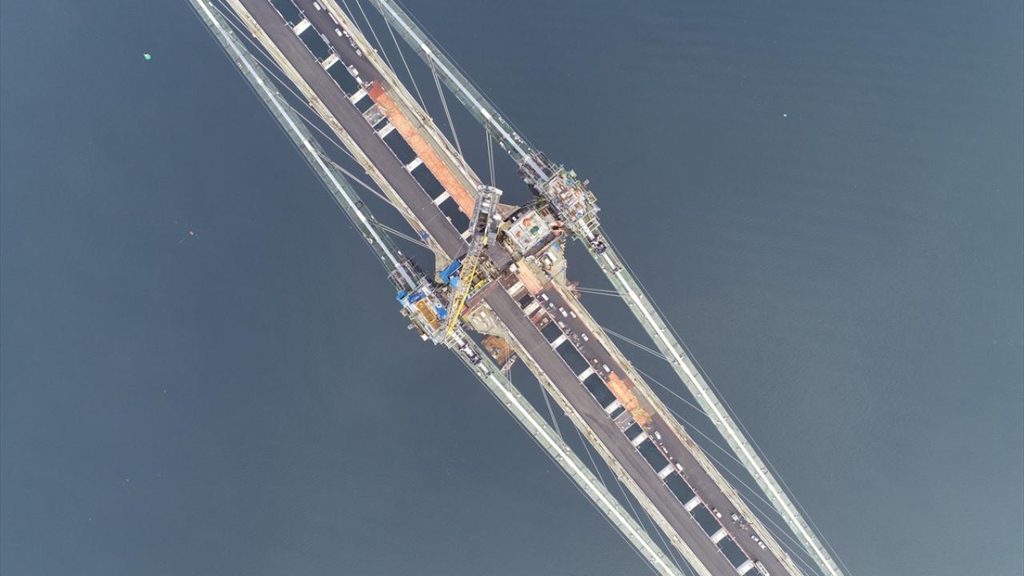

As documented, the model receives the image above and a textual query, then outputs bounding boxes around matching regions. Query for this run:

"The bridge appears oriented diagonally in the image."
[199,0,840,576]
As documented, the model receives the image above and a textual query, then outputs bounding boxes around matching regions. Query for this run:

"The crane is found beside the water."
[447,187,504,336]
